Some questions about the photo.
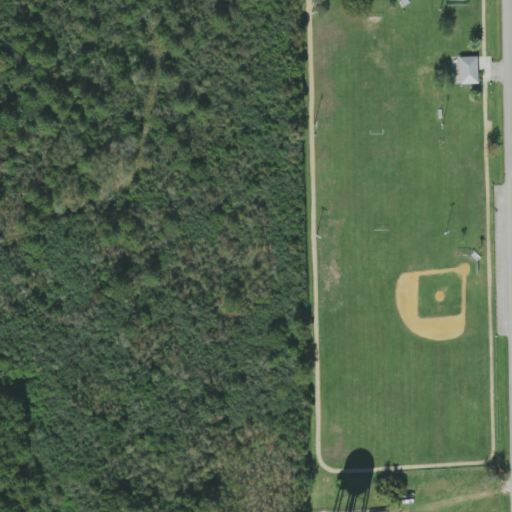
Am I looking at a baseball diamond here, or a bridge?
baseball diamond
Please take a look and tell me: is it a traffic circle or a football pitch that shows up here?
football pitch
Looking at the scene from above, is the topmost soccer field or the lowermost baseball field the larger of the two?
the soccer field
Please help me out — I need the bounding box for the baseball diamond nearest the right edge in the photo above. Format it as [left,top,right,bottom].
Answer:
[396,262,470,340]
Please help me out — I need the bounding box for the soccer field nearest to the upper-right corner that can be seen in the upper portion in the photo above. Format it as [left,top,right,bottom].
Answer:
[345,128,434,233]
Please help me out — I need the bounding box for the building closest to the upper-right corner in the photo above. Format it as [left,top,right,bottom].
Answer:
[452,56,479,84]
